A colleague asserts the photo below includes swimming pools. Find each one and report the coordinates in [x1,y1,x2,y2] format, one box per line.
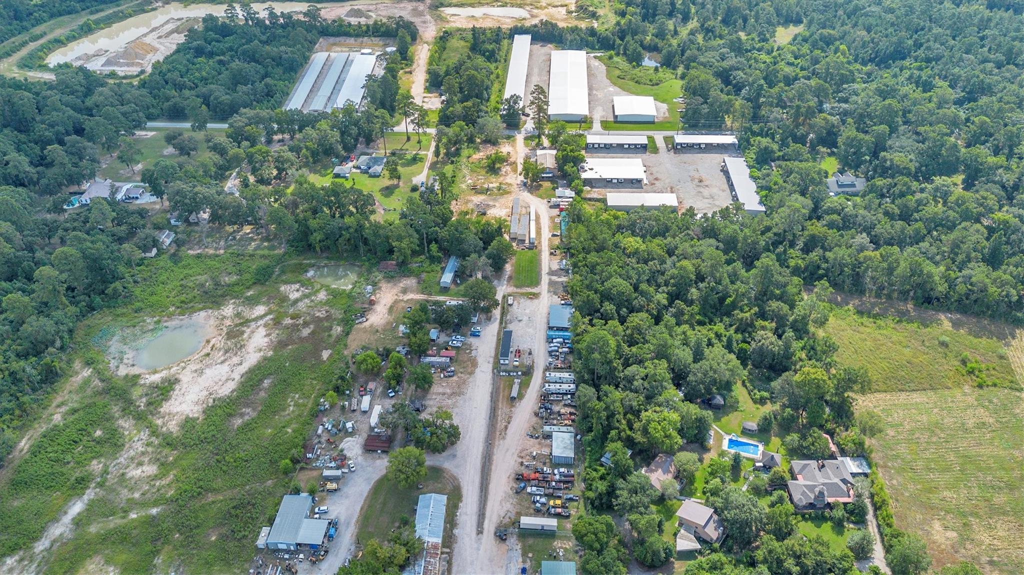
[722,434,763,459]
[63,195,81,208]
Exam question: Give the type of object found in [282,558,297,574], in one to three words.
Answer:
work vehicle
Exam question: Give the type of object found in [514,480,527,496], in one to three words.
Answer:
vehicle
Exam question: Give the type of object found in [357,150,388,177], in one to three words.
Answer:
house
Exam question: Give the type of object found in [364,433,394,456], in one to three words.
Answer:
shed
